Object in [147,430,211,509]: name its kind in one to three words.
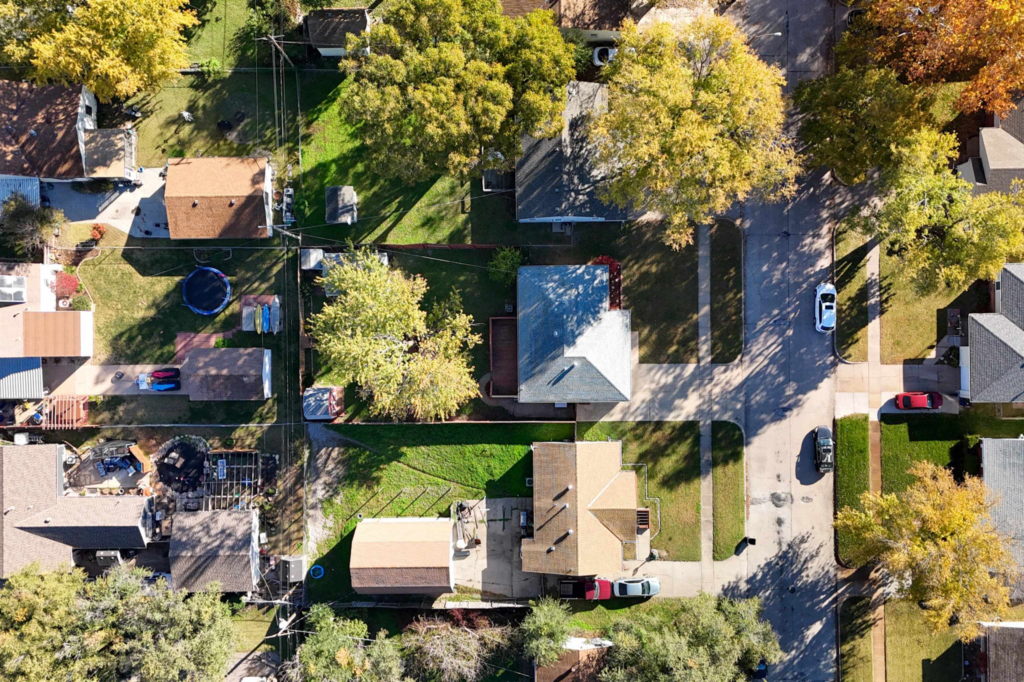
pond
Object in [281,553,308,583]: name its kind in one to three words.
shed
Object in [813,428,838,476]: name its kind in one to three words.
car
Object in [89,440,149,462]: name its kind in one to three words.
gazebo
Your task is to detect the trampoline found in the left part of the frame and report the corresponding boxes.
[182,268,230,315]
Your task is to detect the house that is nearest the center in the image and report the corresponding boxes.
[517,264,632,403]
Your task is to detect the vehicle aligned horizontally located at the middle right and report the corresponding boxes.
[895,390,943,413]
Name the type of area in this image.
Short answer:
residential area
